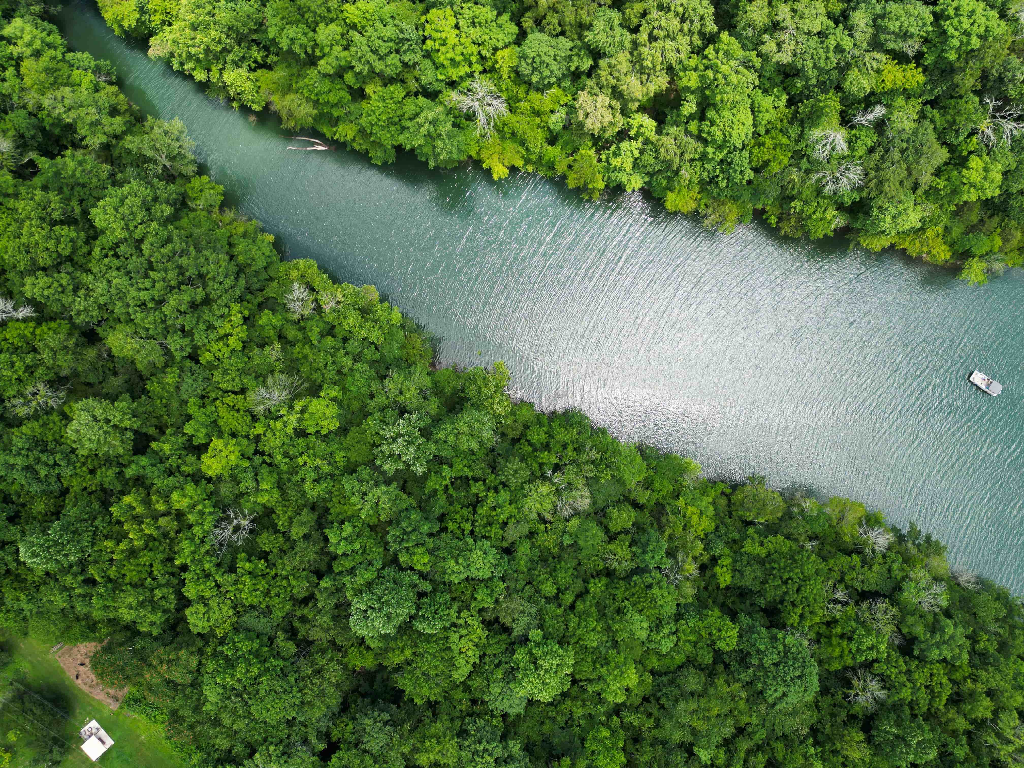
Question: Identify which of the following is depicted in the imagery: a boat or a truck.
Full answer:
There is a boat in the scene.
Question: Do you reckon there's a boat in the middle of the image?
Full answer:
No, I see no boat in the middle of the image.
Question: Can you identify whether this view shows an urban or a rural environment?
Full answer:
The area is rural.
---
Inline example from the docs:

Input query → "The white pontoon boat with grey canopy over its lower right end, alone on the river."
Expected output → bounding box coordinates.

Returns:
[968,370,1004,396]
